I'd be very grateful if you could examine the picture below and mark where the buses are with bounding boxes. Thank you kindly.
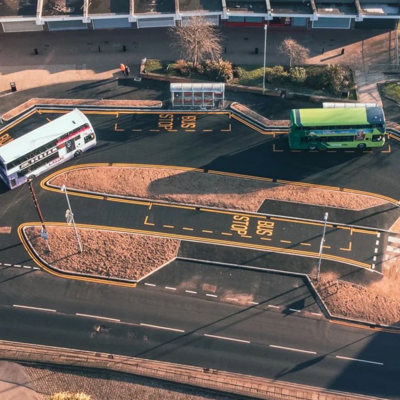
[0,107,101,190]
[289,107,391,151]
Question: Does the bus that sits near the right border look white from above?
No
